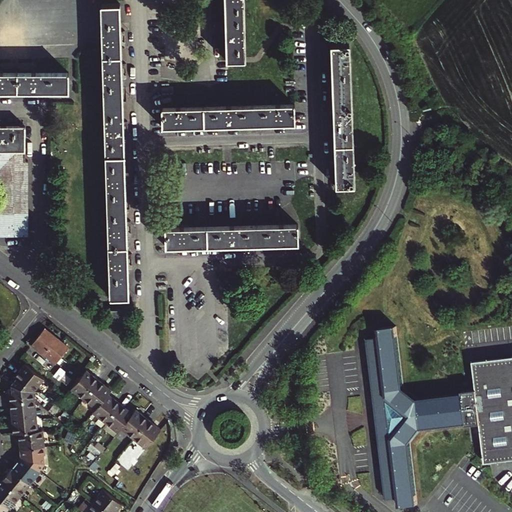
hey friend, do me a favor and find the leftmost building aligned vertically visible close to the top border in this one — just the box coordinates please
[100,7,126,161]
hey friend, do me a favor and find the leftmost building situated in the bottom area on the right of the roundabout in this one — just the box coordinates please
[364,326,463,508]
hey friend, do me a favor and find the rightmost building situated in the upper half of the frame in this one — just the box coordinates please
[330,46,355,192]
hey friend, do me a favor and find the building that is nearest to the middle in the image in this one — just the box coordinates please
[164,224,298,253]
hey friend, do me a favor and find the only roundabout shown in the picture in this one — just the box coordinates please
[192,389,271,468]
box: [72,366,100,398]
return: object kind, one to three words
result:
house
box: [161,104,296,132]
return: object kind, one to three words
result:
building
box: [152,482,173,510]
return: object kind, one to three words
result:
bus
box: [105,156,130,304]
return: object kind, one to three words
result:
building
